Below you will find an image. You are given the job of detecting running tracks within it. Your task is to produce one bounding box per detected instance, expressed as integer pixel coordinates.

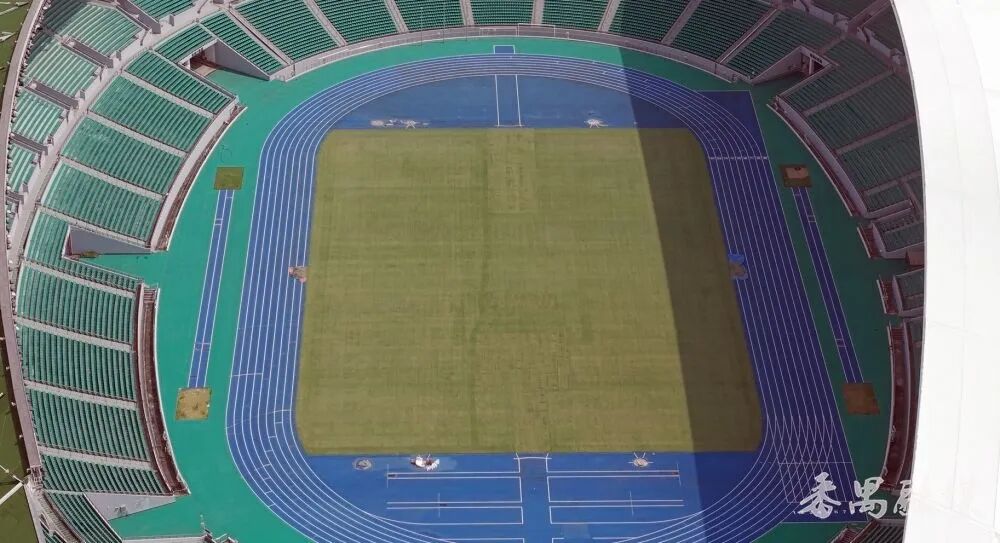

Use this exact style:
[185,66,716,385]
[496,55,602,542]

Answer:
[226,54,869,543]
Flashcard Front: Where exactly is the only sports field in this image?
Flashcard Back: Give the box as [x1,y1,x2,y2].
[297,126,762,457]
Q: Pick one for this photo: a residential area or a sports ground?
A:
sports ground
